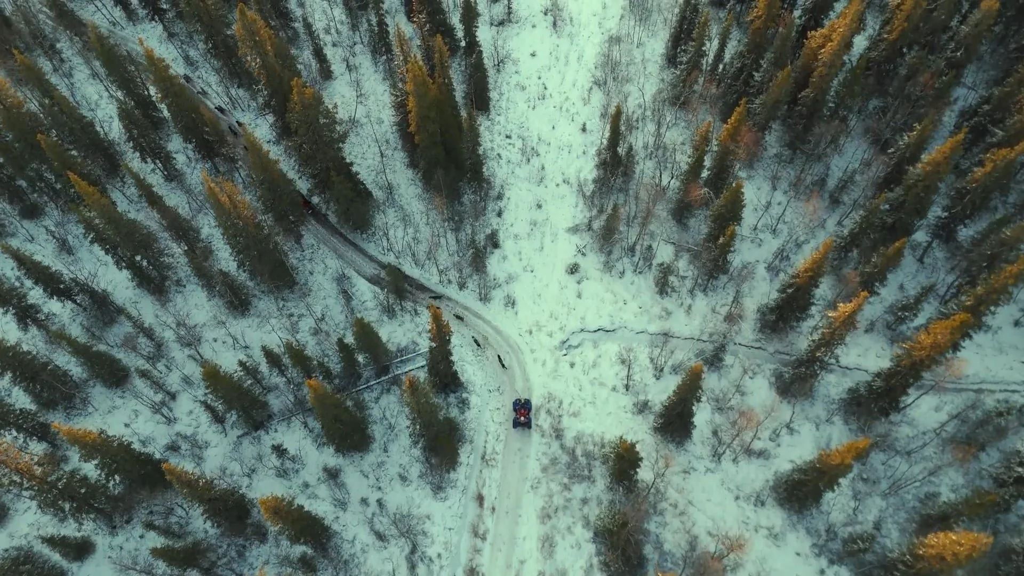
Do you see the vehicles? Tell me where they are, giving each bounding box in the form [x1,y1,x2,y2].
[513,397,532,430]
[299,191,320,218]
